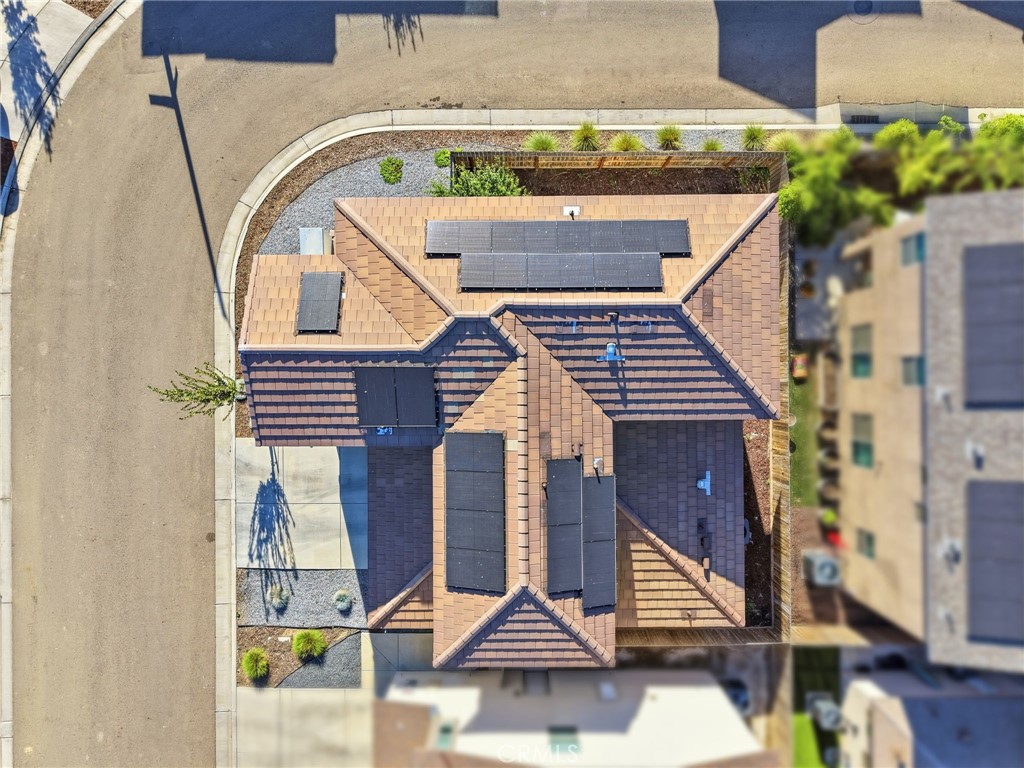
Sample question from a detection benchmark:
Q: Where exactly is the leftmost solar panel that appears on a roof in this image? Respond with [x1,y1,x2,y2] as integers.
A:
[295,273,344,331]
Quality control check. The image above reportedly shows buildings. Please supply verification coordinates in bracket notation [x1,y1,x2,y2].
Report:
[371,673,768,768]
[239,193,782,671]
[812,189,1024,673]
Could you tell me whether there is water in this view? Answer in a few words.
No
